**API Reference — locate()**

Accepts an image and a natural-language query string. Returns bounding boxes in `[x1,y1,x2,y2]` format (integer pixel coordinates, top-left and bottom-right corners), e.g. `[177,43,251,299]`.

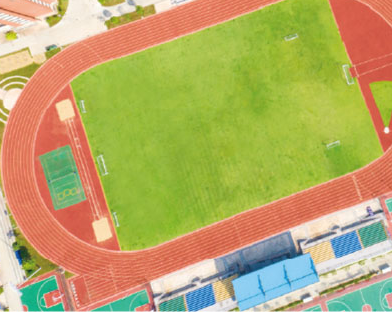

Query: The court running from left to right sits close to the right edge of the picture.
[318,274,392,312]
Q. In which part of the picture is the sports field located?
center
